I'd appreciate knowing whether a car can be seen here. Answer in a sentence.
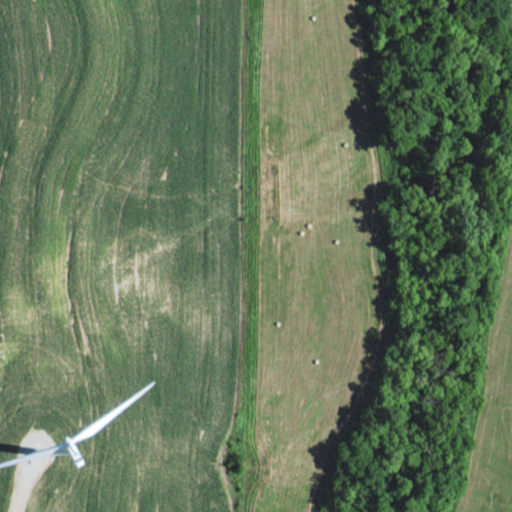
No, no car is visible in the scene.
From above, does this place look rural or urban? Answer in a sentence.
It looks rural.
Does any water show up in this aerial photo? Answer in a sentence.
No, there's no water in this view.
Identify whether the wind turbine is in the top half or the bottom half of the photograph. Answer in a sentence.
Seen from above, the wind turbine lies in the bottom half of the view.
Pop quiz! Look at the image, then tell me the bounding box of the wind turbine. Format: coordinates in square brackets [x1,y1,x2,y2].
[0,381,153,473]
